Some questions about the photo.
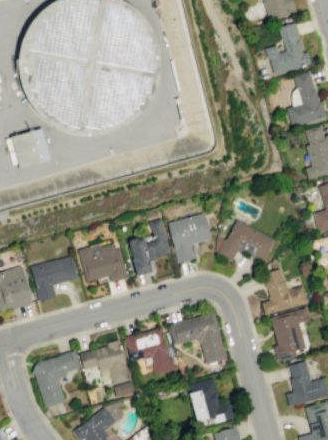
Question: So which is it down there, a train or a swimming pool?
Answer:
swimming pool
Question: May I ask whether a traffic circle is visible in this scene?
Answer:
No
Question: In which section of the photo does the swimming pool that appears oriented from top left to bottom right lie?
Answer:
right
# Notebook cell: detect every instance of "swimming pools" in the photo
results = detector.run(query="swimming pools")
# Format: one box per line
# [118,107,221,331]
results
[121,412,138,435]
[237,199,260,220]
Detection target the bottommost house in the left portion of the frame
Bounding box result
[73,400,124,440]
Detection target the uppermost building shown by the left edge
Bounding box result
[7,128,51,169]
